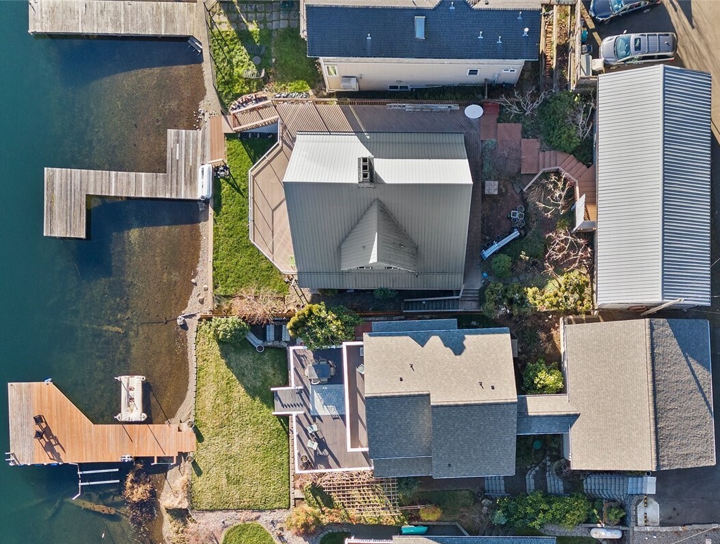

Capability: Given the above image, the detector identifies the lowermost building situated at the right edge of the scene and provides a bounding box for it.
[563,318,717,472]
